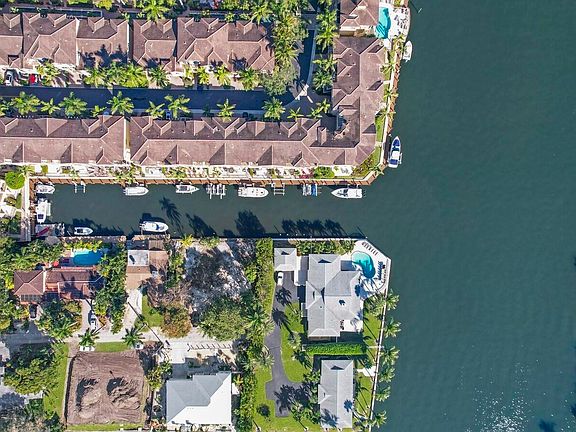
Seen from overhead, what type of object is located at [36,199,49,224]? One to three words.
boat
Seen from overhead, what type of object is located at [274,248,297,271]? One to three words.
building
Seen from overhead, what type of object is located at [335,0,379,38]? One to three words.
house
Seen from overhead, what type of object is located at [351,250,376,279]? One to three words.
swimming pool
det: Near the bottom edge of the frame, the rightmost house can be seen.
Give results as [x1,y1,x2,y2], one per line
[318,358,354,429]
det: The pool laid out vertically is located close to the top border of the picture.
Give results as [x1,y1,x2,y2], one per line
[375,4,393,40]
